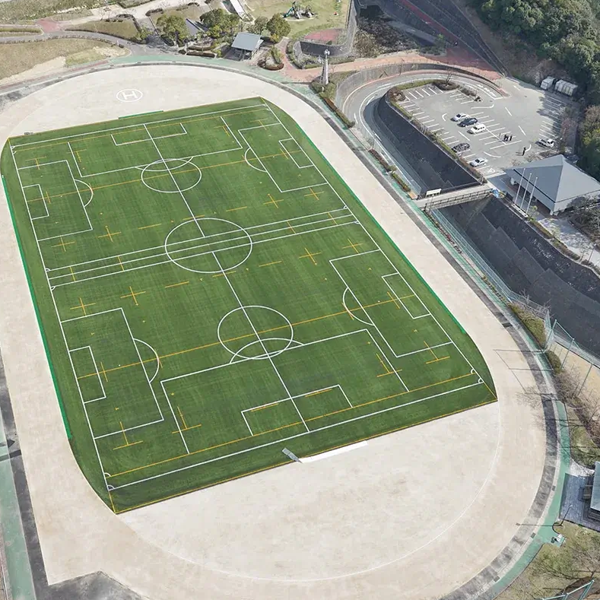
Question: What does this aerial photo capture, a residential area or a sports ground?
sports ground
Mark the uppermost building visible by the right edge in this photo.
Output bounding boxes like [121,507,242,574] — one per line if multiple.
[502,154,600,224]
